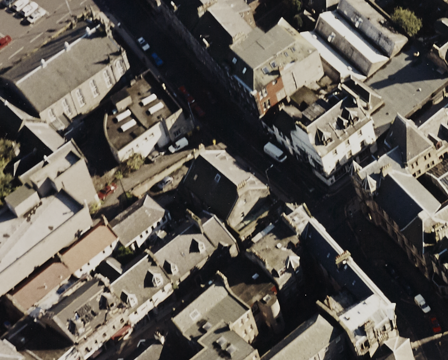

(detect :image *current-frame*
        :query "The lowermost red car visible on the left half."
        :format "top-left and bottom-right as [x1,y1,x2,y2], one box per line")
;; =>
[98,184,116,198]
